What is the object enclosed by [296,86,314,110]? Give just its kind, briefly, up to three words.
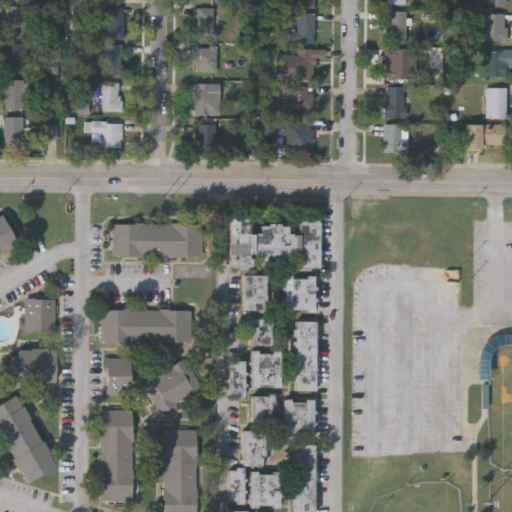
house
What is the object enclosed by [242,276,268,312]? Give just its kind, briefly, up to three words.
building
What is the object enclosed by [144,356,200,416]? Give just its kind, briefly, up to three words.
building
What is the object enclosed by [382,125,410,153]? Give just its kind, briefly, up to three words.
house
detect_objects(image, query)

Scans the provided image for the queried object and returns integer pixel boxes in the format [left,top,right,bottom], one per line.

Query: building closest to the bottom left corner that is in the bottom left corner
[0,398,56,484]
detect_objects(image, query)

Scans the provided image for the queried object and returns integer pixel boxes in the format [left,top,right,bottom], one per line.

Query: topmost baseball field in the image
[491,346,512,470]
